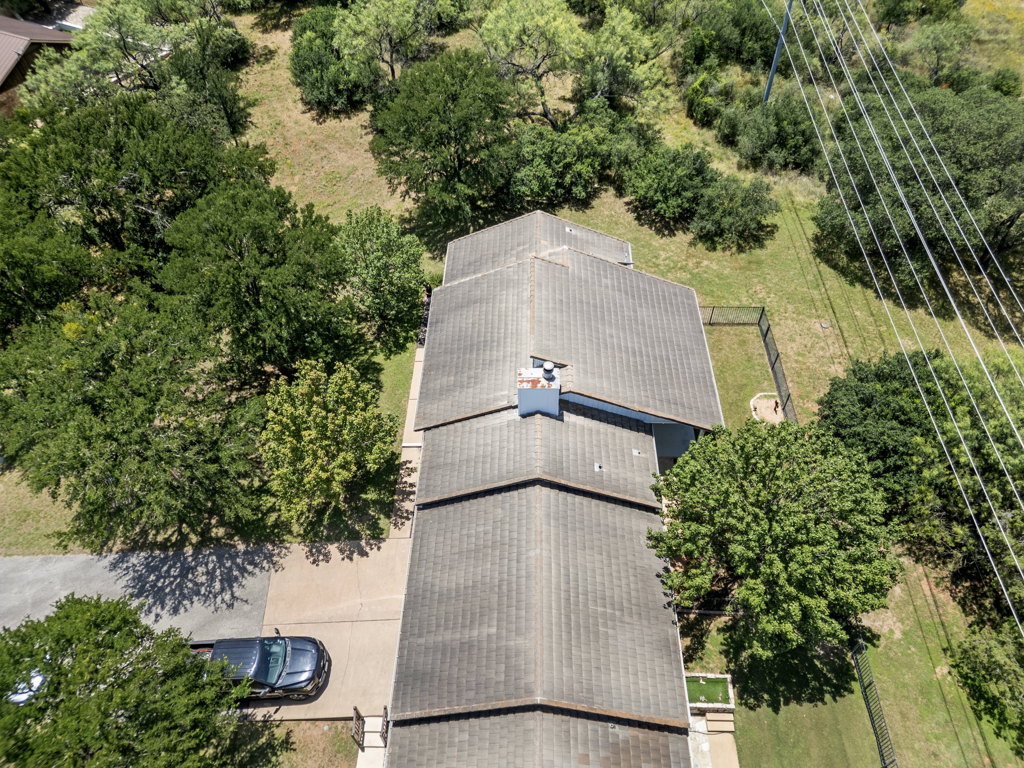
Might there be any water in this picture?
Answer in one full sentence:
No, there's no water in this view.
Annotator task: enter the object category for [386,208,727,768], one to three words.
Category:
house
